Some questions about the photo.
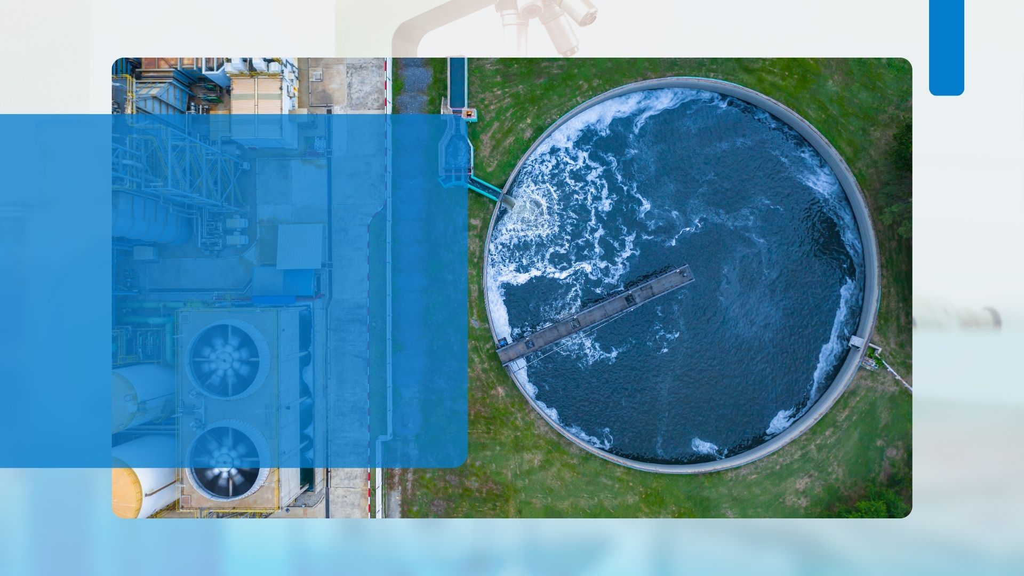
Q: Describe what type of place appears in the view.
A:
industrial area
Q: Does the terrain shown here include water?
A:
Yes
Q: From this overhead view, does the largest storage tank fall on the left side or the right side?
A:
right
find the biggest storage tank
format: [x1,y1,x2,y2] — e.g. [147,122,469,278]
[483,77,880,474]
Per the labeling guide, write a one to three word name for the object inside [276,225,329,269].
shed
